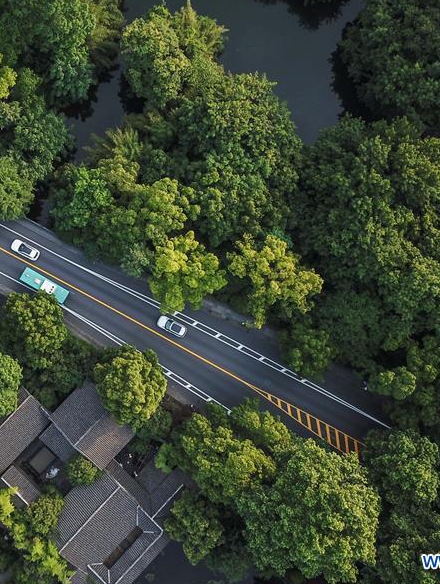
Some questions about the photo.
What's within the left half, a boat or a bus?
bus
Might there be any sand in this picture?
No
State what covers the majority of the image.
trees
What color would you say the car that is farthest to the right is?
white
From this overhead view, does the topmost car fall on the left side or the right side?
left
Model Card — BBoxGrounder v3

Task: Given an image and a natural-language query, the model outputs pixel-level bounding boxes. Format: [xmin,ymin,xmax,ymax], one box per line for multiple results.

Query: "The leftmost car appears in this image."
[10,238,42,262]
